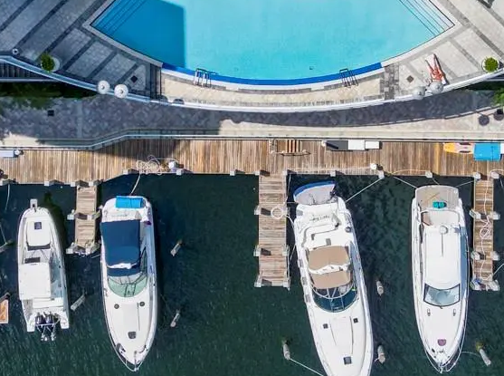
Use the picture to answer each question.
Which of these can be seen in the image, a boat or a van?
boat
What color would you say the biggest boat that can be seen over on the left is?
white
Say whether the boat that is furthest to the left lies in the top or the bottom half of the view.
bottom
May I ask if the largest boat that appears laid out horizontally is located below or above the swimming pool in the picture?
below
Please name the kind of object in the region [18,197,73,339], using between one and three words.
boat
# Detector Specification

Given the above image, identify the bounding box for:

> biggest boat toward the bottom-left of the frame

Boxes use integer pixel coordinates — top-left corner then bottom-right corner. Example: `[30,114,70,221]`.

[100,195,163,374]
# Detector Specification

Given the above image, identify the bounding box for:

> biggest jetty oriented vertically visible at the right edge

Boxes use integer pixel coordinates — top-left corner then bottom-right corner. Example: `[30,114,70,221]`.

[465,177,502,291]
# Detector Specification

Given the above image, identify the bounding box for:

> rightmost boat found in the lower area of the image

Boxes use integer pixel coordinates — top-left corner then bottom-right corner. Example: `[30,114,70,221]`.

[407,186,471,375]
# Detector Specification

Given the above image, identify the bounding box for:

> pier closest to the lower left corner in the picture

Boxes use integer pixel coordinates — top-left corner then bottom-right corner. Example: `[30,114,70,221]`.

[66,184,104,255]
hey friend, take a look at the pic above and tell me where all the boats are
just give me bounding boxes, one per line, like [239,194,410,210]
[291,180,337,204]
[292,195,378,376]
[100,195,163,374]
[407,186,471,375]
[18,197,73,339]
